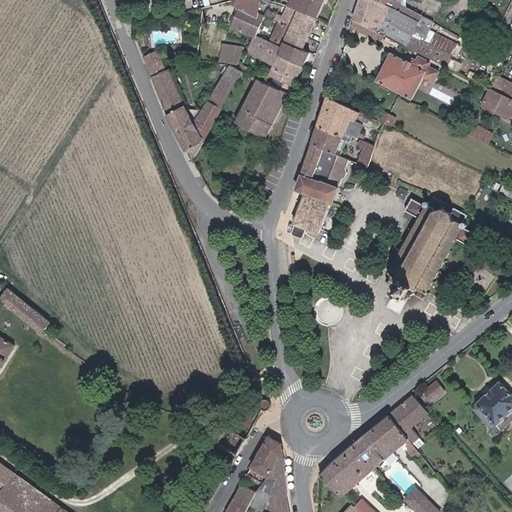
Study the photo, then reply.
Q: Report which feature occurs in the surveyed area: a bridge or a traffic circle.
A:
traffic circle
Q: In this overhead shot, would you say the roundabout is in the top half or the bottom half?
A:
bottom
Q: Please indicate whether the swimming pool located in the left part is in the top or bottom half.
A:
top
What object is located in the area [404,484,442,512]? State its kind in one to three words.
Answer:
barn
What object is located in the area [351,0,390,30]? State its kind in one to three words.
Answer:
house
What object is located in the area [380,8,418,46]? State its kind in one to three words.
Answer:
building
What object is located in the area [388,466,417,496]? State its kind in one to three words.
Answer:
swimming pool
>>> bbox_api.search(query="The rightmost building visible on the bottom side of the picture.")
[472,382,512,440]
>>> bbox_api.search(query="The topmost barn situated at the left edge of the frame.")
[0,288,50,336]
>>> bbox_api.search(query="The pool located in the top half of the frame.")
[150,26,181,48]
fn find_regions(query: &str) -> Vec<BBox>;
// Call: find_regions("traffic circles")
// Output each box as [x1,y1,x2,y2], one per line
[281,380,362,466]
